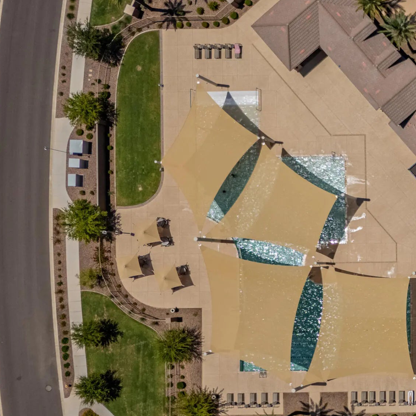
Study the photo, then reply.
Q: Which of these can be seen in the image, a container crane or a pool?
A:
pool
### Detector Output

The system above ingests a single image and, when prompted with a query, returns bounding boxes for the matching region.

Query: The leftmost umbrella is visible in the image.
[115,253,142,279]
